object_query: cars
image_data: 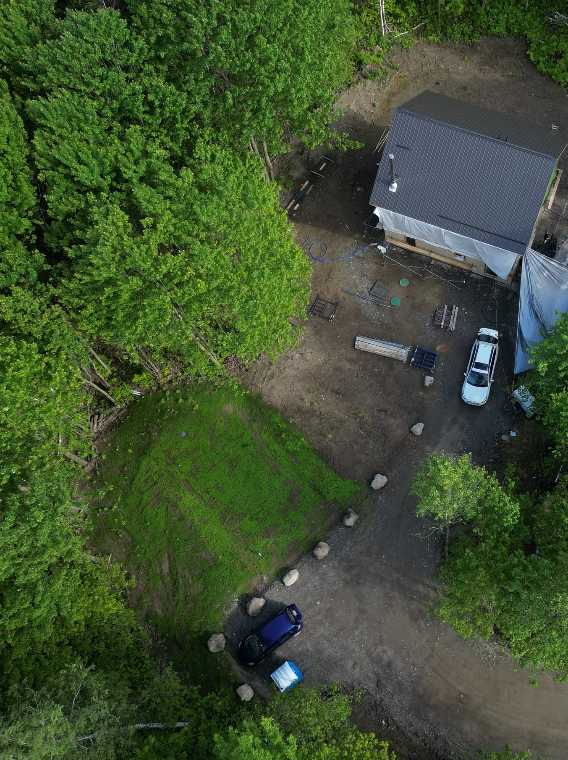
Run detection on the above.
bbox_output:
[237,610,311,669]
[463,327,501,408]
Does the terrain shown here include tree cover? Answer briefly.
Yes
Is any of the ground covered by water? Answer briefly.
No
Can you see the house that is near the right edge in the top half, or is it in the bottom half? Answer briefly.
top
